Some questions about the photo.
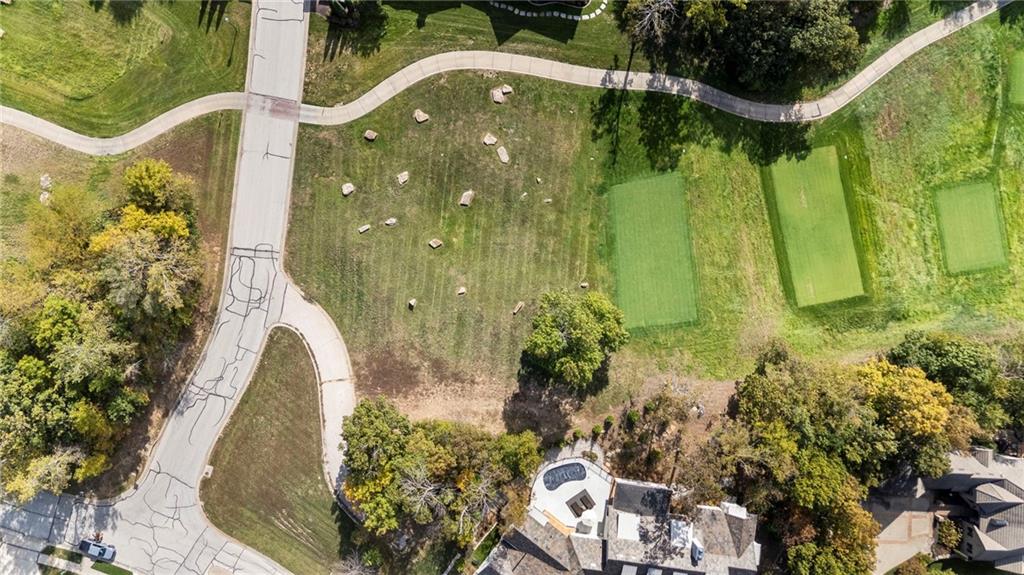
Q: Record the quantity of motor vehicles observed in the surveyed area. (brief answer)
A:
1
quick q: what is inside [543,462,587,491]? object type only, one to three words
swimming pool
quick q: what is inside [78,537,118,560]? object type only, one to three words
truck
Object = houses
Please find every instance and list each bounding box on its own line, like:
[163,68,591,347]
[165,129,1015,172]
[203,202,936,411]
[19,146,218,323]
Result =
[915,449,1024,575]
[473,475,761,575]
